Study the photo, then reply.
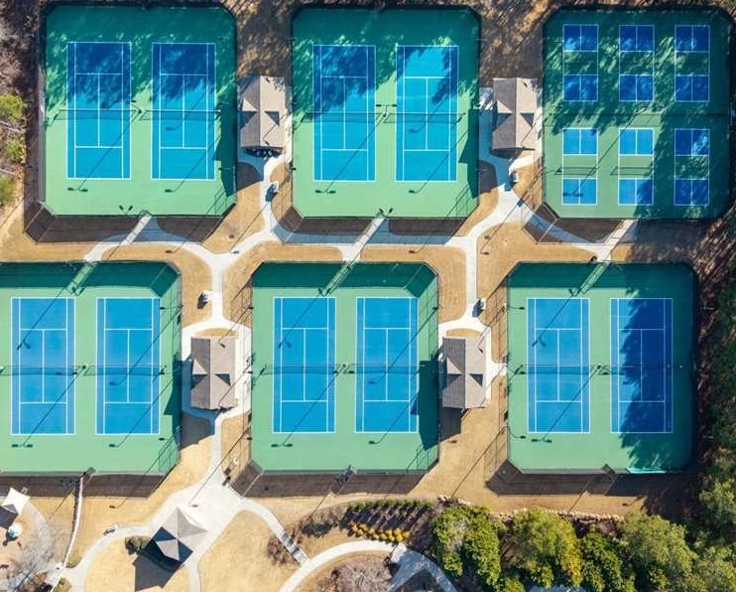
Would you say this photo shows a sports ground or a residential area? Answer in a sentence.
This looks like a sports ground.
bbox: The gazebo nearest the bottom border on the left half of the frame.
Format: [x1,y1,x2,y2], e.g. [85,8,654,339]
[153,502,210,562]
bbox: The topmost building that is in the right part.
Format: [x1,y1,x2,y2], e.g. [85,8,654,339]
[493,74,537,149]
